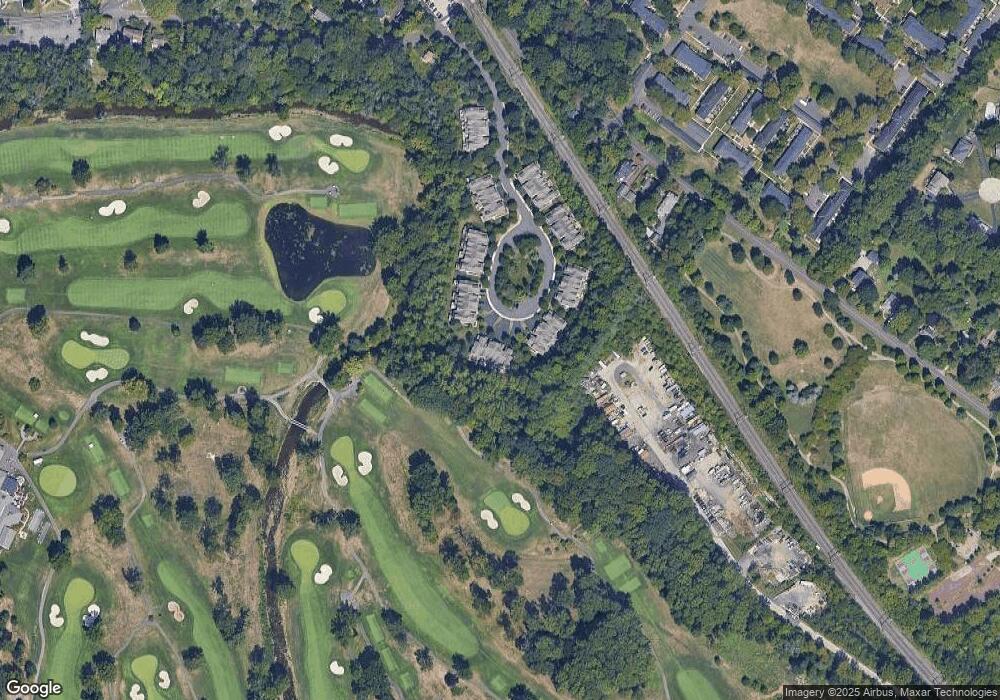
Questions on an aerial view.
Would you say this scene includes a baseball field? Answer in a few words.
Yes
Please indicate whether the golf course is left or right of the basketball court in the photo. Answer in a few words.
to its left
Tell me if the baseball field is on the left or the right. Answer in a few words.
right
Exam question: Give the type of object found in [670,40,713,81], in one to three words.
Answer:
building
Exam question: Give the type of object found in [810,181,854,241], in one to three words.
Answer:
building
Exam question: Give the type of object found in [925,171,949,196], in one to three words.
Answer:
house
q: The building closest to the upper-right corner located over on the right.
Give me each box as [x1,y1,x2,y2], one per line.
[953,0,985,40]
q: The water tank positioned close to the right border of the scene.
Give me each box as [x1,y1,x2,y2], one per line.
[979,178,1000,203]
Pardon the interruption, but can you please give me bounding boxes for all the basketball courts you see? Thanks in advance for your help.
[896,547,936,586]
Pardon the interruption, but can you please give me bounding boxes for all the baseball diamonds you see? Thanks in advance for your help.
[843,361,983,526]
